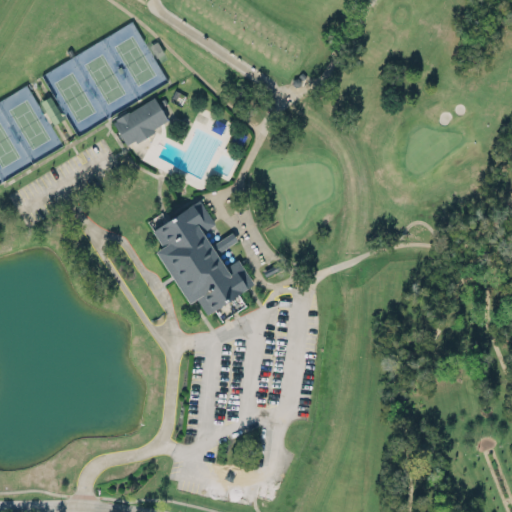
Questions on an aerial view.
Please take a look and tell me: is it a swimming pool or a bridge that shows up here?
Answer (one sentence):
The one in the frame is a swimming pool.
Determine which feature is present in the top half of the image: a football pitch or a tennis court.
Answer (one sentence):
Looking in the top half of the image, you will find a tennis court.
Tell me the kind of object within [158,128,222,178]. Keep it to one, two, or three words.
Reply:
swimming pool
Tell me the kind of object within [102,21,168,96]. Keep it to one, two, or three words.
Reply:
tennis court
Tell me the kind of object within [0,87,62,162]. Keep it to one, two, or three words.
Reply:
tennis court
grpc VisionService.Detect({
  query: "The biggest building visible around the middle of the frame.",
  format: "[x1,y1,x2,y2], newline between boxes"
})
[155,202,254,315]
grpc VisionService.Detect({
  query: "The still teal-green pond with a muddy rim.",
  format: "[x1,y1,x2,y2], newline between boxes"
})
[0,248,145,470]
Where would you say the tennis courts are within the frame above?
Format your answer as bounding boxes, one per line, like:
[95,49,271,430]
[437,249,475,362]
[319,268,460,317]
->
[46,59,108,131]
[73,40,138,114]
[0,87,62,162]
[0,108,33,182]
[102,21,168,96]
